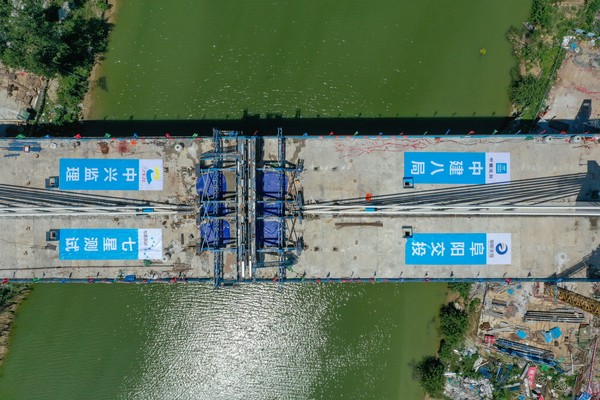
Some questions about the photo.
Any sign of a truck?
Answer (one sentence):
No, I can't see a single truck in this photo.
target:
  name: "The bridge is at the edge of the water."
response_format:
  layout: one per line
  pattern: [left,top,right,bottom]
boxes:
[0,134,600,282]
